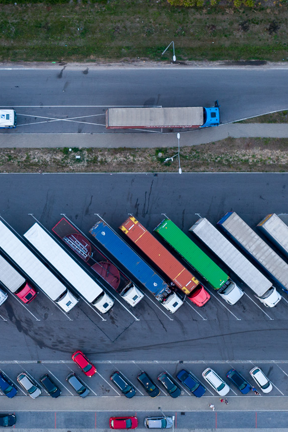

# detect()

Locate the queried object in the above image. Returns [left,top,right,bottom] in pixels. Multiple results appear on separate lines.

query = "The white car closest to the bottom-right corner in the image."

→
[249,366,274,394]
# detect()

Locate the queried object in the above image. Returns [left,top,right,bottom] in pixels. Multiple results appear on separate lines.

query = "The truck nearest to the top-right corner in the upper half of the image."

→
[105,103,220,129]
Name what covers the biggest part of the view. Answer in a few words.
paved ground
